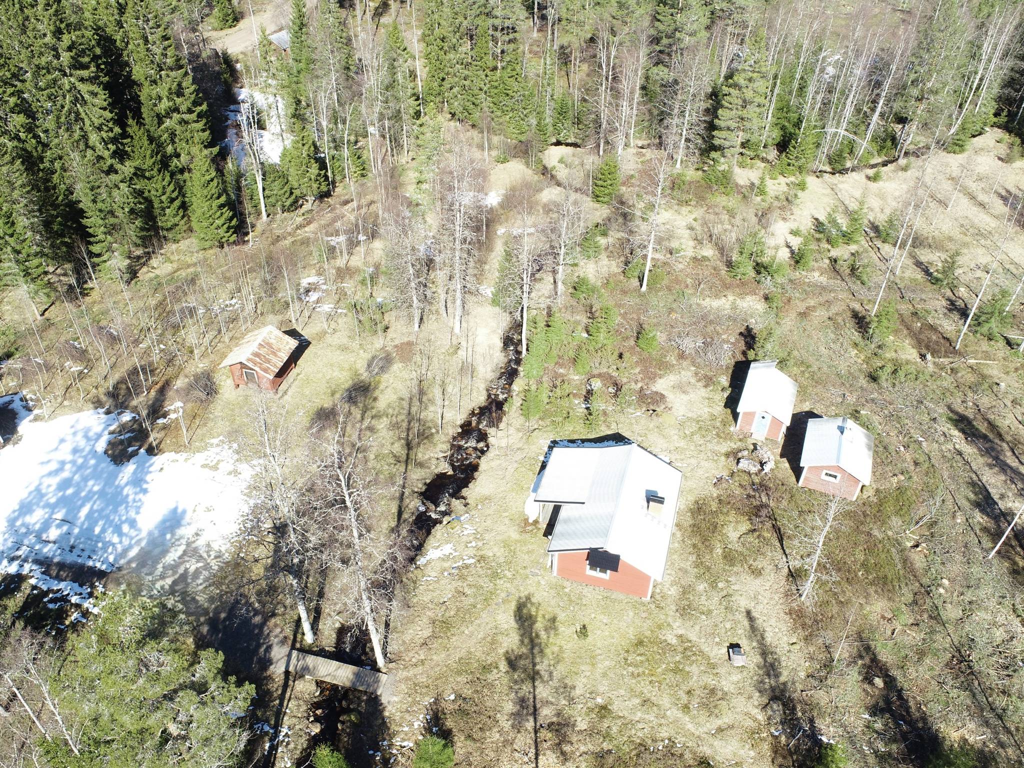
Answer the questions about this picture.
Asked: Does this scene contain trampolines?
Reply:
No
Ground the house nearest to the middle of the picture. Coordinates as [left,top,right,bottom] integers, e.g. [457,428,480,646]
[533,442,683,598]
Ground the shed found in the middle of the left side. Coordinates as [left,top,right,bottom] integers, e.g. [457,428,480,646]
[216,324,299,395]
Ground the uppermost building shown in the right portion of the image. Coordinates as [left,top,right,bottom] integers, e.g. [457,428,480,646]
[736,362,800,443]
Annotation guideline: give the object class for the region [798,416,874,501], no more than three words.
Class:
building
